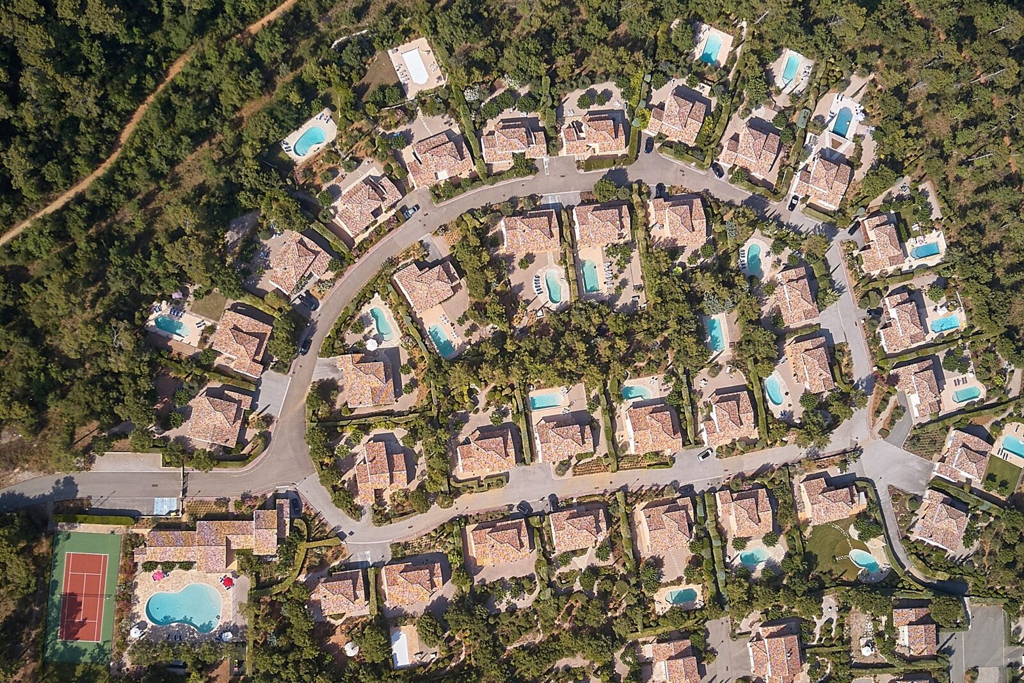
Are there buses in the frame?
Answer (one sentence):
No, I can see no bus in this picture.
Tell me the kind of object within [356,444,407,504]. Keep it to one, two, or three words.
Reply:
house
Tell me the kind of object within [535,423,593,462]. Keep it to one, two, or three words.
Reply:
house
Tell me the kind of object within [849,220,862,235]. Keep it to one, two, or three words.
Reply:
vehicle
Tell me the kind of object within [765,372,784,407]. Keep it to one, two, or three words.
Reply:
swimming pool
